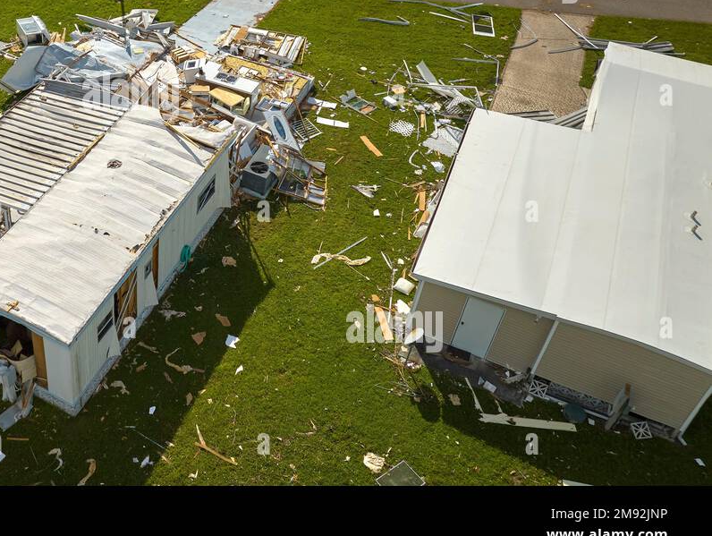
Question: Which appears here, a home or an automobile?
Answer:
home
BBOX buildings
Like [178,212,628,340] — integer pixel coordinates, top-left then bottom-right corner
[0,69,235,414]
[403,47,712,464]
